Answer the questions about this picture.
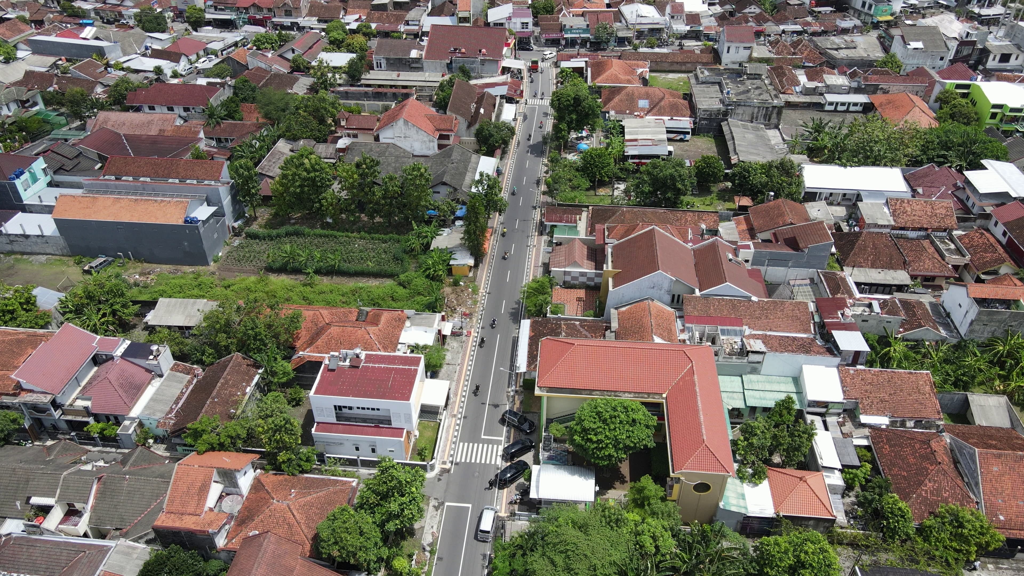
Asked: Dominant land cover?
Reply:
buildings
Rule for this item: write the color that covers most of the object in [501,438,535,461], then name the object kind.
black car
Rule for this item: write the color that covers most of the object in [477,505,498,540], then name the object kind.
white vehicle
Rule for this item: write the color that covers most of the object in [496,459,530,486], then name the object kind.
black car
